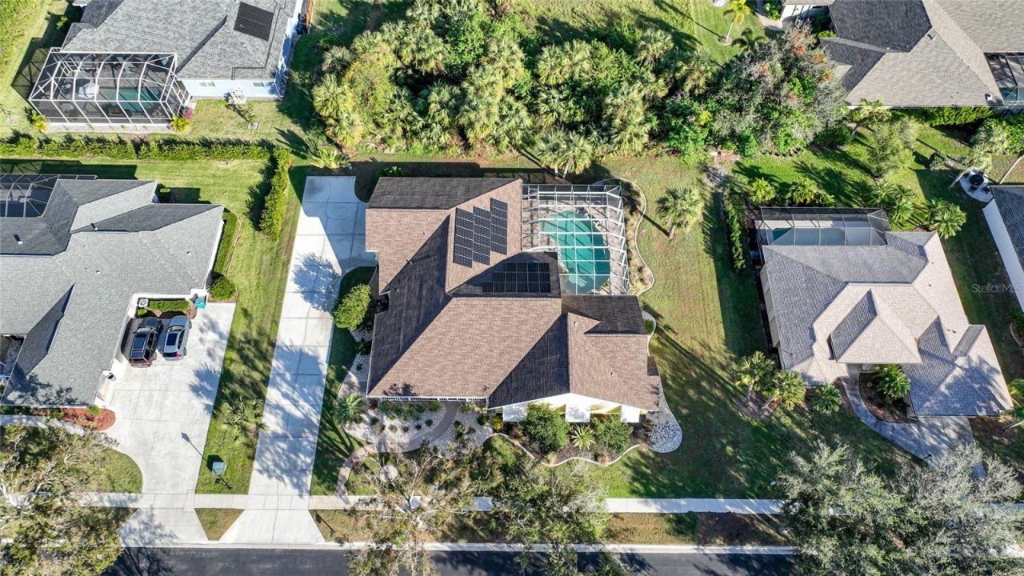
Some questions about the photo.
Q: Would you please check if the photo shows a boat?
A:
No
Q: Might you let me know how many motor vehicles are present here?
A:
2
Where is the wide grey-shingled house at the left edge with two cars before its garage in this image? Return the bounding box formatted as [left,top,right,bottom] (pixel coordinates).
[0,179,229,413]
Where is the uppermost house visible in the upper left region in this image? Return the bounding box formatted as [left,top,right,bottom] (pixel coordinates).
[61,0,303,97]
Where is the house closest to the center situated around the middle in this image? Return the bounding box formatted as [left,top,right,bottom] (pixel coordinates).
[365,177,661,414]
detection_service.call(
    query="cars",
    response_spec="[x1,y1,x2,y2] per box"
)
[157,315,195,365]
[128,319,165,371]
